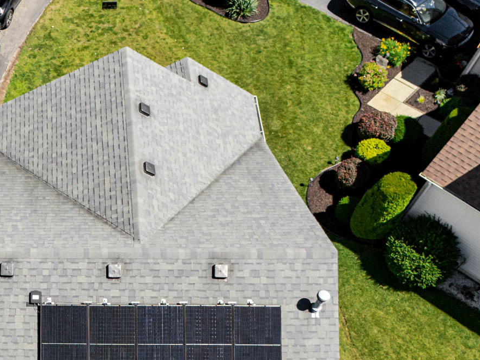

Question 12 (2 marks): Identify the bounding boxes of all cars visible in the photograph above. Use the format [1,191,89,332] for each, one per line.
[449,0,480,18]
[347,0,478,62]
[0,0,19,28]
